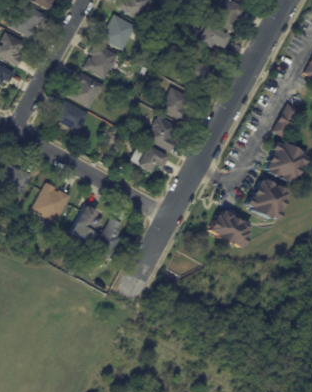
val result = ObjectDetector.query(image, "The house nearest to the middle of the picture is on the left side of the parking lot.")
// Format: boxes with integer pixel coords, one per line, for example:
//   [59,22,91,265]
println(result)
[138,148,166,172]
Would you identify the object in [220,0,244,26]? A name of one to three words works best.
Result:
house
